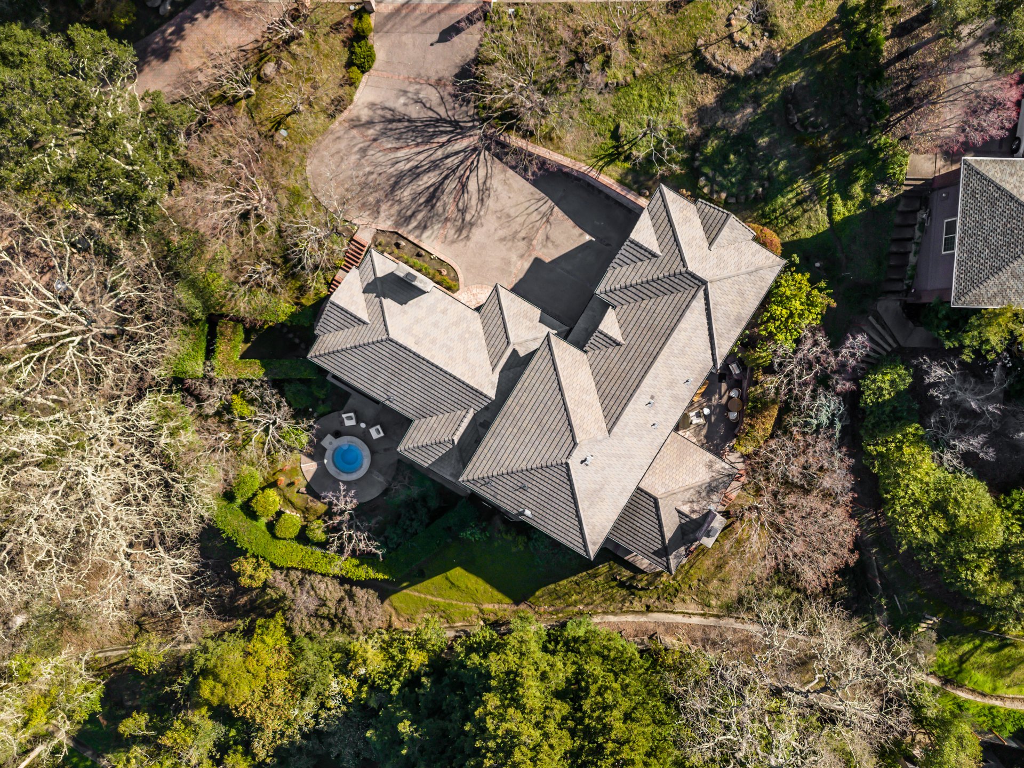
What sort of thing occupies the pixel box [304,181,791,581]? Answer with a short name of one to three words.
house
